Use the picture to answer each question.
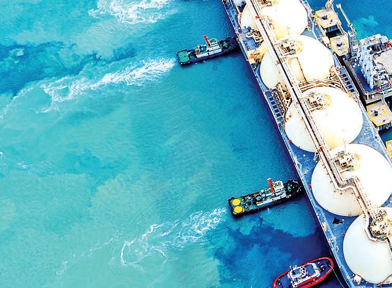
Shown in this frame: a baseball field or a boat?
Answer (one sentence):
I can see a boat in this picture.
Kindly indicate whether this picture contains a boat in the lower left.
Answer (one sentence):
No, looking in the lower left, there is no boat.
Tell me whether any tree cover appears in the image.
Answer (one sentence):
No, no tree cover is visible.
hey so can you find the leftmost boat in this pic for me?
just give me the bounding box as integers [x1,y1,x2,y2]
[176,35,238,66]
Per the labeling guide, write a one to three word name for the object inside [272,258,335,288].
boat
